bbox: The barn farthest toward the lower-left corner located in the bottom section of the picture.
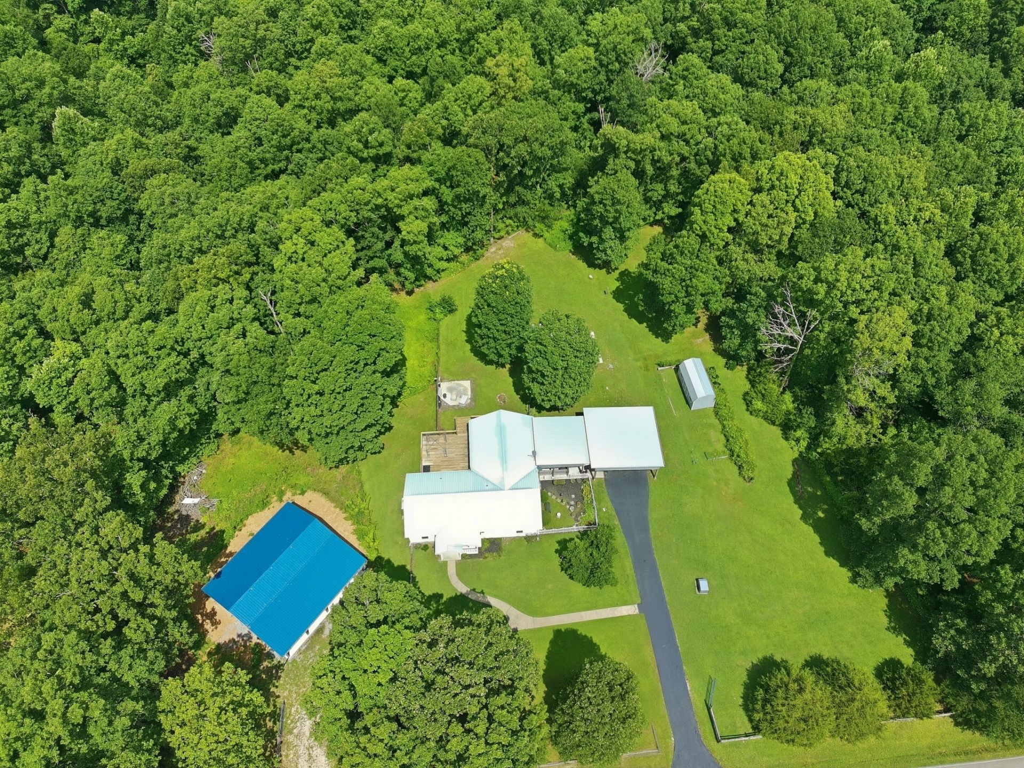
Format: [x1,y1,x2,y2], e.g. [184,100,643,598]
[202,501,368,661]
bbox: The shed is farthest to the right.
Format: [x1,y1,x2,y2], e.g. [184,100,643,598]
[678,355,719,410]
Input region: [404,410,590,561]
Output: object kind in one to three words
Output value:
house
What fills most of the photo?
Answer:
trees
